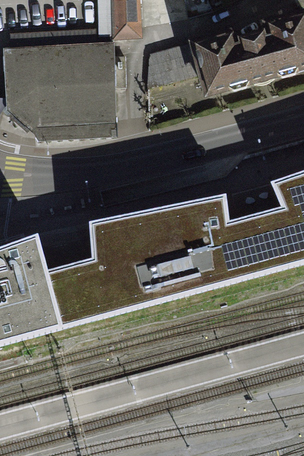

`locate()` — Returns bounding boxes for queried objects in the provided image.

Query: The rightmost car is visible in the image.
[240,21,260,34]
